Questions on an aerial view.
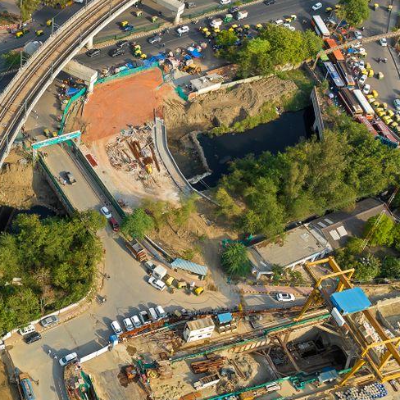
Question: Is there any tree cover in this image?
Yes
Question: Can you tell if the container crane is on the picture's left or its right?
right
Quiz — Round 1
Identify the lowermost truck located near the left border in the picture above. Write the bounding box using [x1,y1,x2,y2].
[16,367,38,400]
